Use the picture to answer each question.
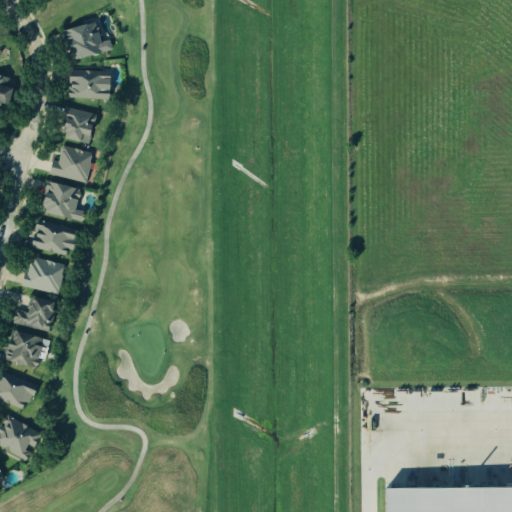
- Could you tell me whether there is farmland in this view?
Yes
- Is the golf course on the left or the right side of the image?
left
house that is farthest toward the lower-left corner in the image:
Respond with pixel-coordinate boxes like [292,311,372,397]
[0,415,40,460]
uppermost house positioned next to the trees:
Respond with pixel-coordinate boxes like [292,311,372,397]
[64,21,114,60]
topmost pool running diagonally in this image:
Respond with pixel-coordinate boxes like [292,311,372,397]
[98,12,118,38]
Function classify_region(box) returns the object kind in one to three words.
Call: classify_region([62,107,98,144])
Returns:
house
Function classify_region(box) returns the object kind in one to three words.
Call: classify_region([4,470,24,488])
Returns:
swimming pool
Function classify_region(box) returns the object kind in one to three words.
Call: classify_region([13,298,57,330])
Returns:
house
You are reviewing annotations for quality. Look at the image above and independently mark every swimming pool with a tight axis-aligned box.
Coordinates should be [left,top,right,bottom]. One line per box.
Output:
[4,470,24,488]
[82,192,98,212]
[98,12,118,38]
[111,64,122,92]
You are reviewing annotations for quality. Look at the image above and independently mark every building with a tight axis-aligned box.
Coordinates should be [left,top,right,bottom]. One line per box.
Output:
[13,298,57,330]
[387,488,512,512]
[0,415,40,460]
[2,330,42,367]
[64,21,114,60]
[0,373,38,408]
[62,107,98,144]
[68,68,112,99]
[32,224,75,258]
[42,182,84,222]
[48,144,92,184]
[21,258,64,294]
[0,74,14,104]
